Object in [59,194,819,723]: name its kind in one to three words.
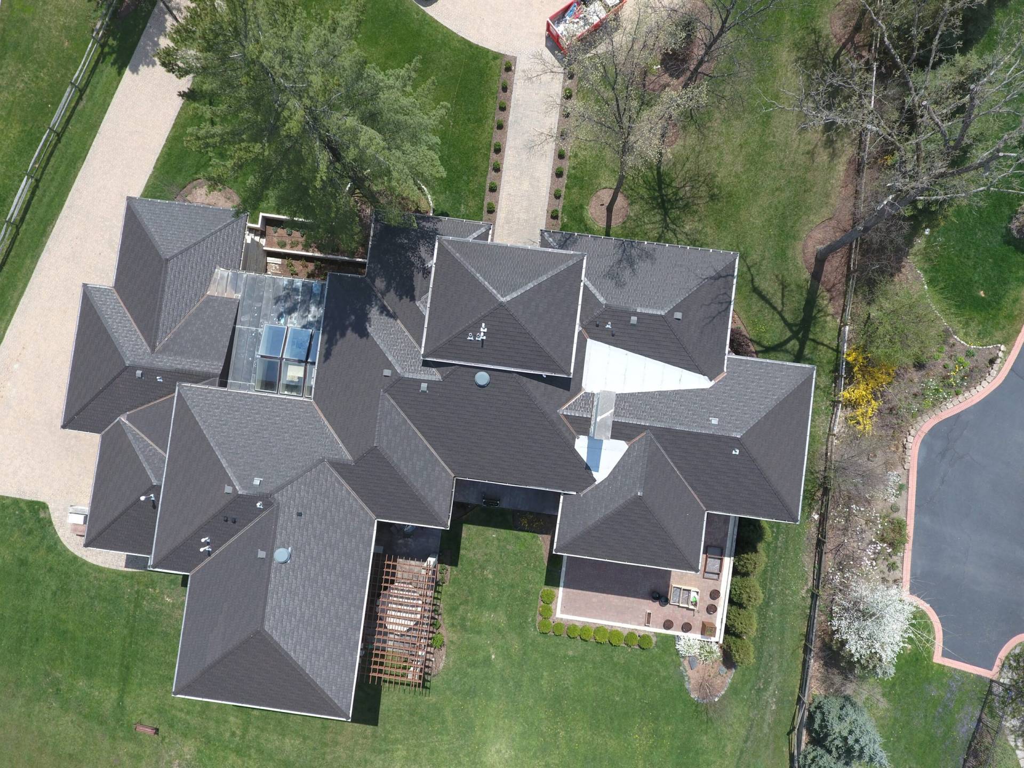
house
